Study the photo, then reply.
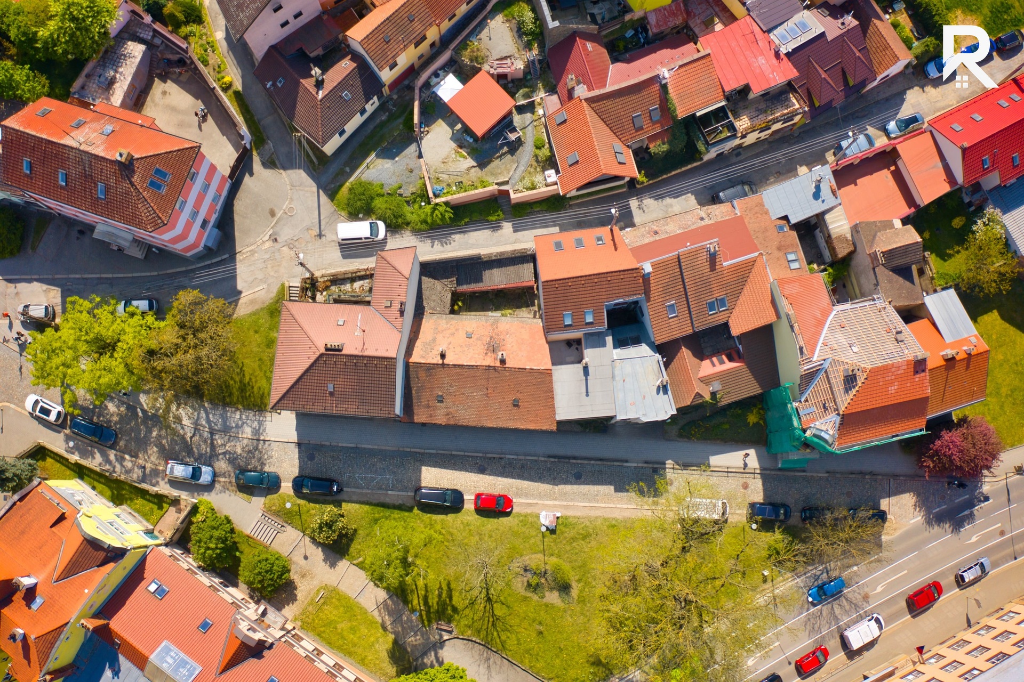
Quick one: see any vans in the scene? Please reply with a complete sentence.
Yes, there's a van here.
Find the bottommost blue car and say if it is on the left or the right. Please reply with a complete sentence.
The bottommost blue car appears in the right half of the scene.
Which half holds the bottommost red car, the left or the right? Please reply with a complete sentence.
The bottommost red car is on the right side of the image.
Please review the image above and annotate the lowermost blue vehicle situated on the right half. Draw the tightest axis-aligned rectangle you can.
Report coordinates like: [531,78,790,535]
[804,575,851,606]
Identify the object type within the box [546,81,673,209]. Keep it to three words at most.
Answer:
house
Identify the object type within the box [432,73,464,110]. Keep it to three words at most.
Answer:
tent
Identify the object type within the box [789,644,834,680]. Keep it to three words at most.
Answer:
car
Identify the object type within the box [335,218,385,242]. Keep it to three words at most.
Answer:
vehicle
